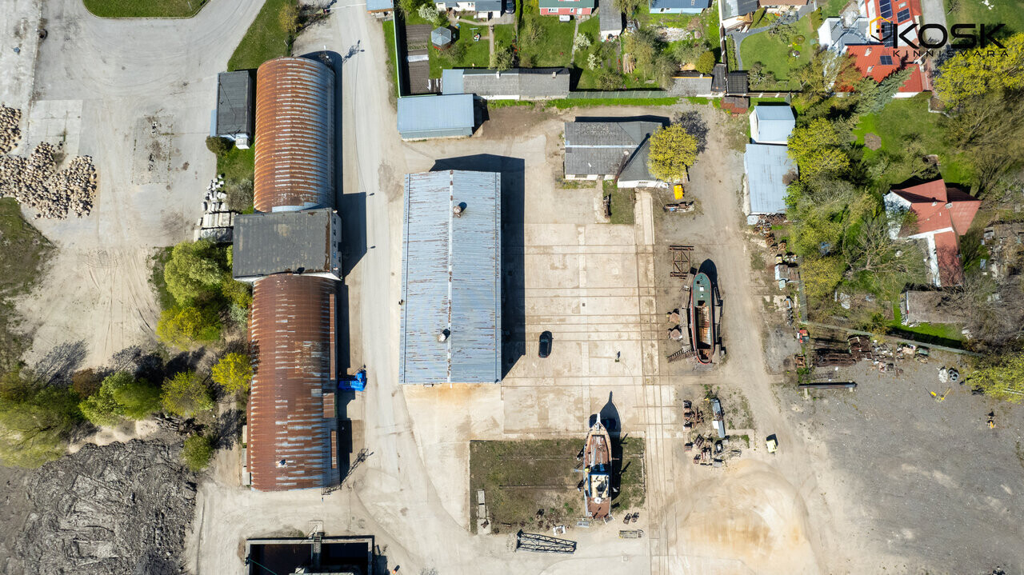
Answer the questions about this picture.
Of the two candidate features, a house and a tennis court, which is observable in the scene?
house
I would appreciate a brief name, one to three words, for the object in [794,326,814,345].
work vehicle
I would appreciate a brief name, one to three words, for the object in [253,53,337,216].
building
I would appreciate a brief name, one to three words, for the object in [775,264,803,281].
shed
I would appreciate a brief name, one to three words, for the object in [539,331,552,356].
vehicle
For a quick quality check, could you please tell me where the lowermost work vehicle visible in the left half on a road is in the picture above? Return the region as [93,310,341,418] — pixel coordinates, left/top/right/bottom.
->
[339,367,363,390]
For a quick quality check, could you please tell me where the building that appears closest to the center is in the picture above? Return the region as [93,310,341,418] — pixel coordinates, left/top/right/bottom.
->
[399,170,502,387]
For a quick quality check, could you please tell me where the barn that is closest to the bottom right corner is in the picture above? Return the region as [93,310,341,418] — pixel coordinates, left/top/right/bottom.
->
[899,291,970,326]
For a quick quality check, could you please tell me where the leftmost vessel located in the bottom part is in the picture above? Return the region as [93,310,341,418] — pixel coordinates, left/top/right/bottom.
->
[573,413,620,524]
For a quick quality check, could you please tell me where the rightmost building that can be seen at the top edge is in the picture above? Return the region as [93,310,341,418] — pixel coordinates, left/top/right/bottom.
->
[822,0,931,100]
